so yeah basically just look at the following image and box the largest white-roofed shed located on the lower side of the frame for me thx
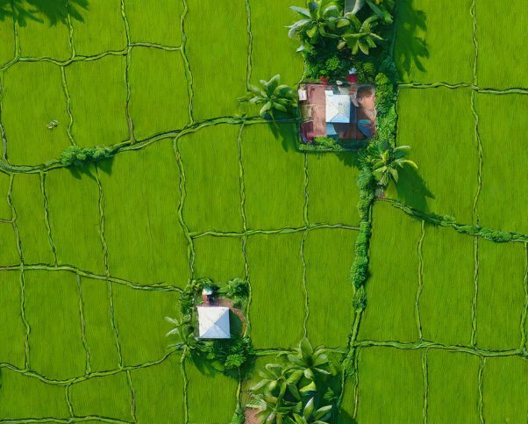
[197,307,231,339]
